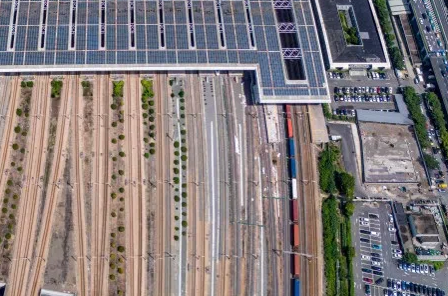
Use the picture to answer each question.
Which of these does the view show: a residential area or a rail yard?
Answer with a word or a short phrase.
rail yard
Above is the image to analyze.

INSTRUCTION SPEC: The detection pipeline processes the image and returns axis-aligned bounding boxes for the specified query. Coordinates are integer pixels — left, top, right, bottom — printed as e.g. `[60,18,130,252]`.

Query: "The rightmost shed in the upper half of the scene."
[356,94,414,126]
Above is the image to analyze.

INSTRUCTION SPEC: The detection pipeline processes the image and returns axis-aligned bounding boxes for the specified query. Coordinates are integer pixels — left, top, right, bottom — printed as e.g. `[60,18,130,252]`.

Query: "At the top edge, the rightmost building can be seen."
[311,0,392,73]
